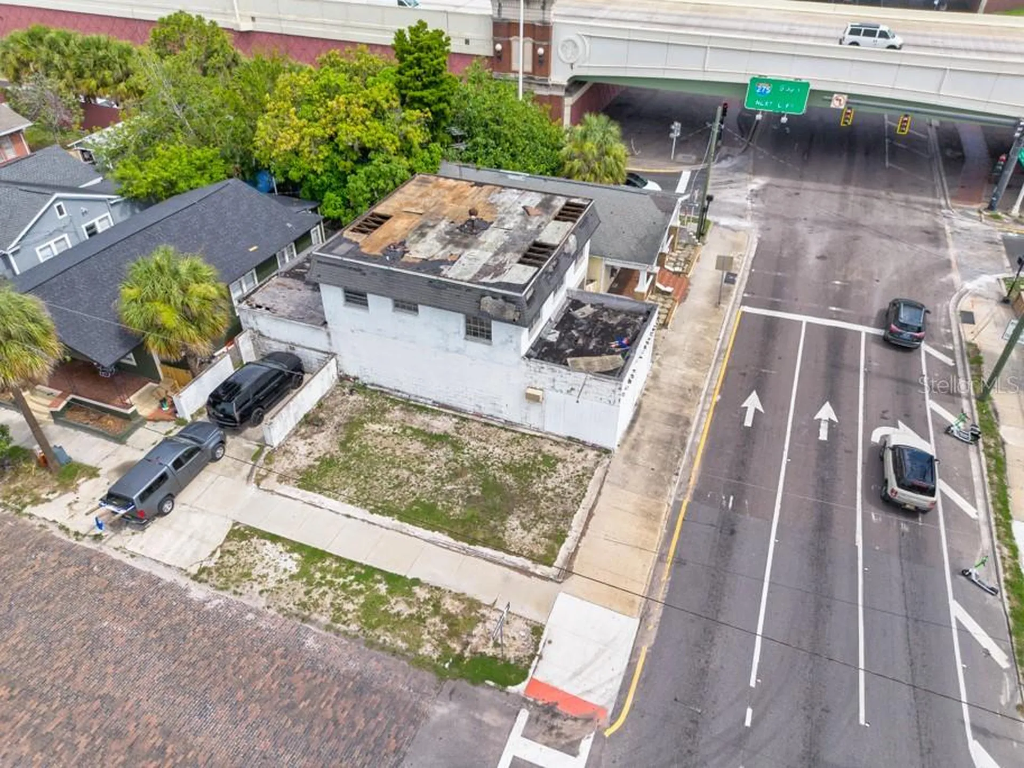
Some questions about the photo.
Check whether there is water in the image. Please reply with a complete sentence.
No, the scene doesn't show any water.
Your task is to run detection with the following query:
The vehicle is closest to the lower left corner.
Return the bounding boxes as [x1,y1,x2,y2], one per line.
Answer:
[100,423,231,527]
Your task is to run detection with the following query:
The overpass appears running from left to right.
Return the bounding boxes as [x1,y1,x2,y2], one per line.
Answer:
[0,0,1024,126]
